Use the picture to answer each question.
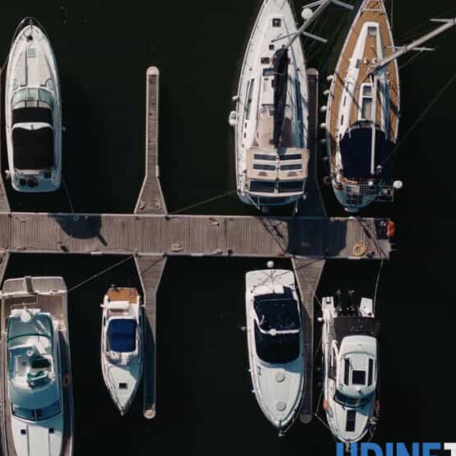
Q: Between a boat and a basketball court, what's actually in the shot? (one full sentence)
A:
Visible in the photo is a boat.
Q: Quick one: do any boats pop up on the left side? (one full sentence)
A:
Yes, a boat appears on the left side.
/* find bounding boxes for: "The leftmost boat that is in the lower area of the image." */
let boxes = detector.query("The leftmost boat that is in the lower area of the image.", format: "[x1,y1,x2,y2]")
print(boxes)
[0,275,74,456]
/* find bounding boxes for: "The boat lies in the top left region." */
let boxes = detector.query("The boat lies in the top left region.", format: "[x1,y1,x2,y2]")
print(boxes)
[5,18,62,193]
